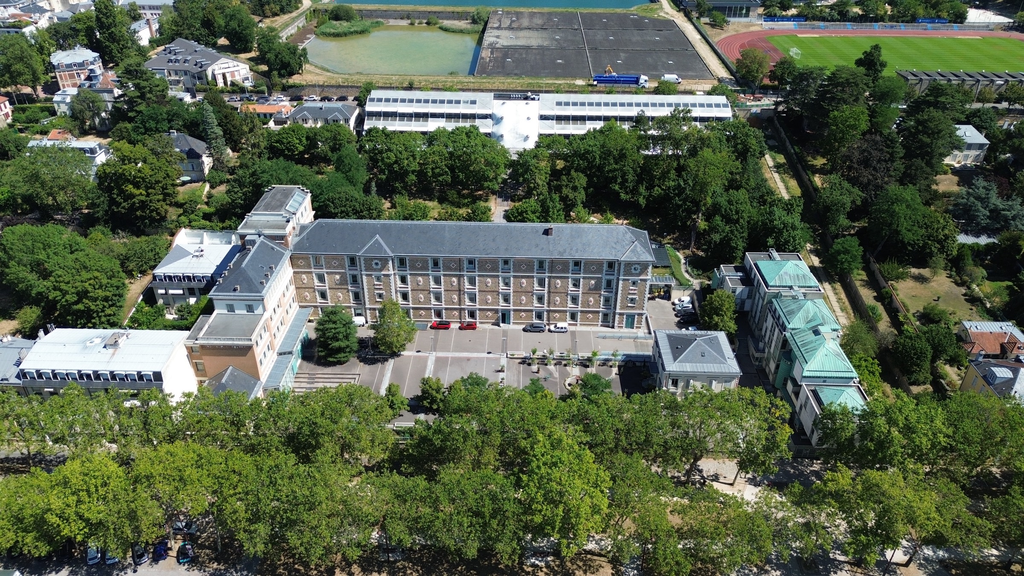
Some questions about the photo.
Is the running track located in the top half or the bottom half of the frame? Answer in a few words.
top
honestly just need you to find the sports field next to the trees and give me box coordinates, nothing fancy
[769,36,1024,79]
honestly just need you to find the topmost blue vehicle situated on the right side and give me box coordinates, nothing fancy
[595,73,648,88]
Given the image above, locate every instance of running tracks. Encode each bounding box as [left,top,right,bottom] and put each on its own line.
[720,29,1024,89]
